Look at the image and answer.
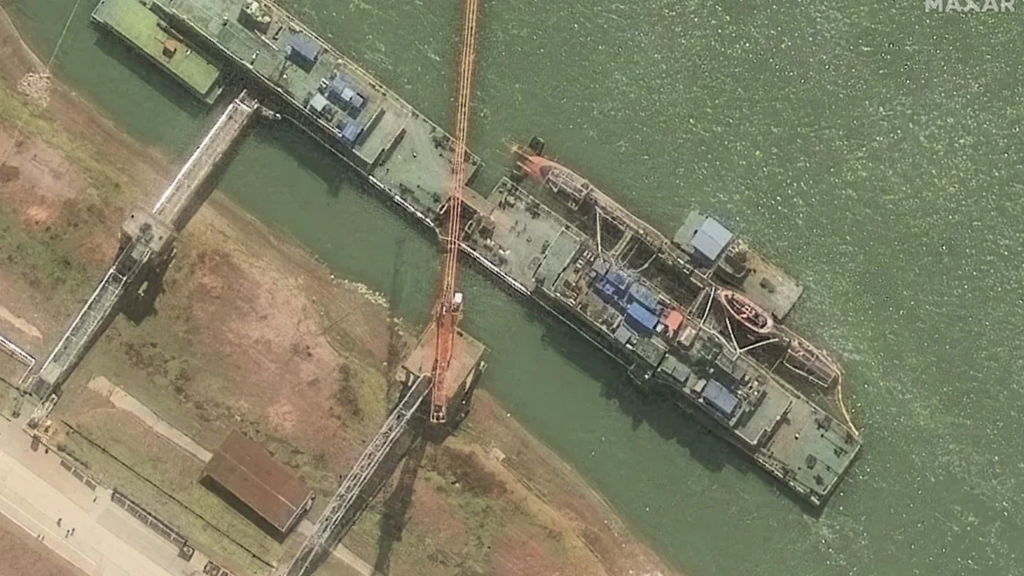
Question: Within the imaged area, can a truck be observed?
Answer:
No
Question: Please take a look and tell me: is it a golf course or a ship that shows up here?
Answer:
ship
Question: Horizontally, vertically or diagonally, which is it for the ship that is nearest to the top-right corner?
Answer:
diagonally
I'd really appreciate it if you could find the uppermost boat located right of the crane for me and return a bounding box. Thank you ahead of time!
[530,138,544,155]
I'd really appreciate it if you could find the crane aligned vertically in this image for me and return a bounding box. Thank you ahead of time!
[430,0,477,422]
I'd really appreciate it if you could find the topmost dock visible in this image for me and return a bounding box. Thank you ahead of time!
[92,0,222,103]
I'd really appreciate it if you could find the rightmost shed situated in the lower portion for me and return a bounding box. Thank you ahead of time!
[204,430,312,530]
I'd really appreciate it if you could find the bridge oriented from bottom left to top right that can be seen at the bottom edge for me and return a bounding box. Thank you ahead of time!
[285,375,436,576]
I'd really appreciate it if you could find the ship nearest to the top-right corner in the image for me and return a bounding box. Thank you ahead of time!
[674,211,804,320]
